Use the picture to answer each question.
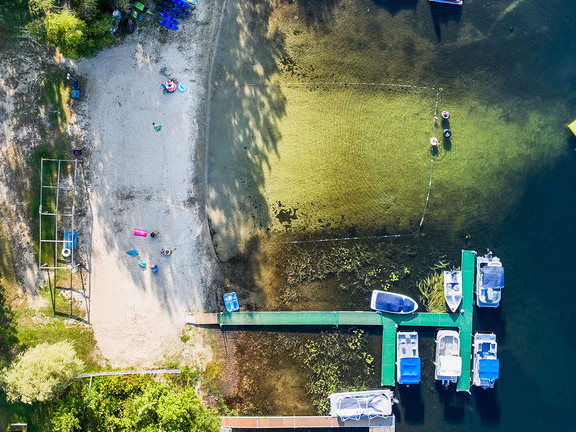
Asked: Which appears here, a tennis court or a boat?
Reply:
boat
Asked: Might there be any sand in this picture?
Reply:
Yes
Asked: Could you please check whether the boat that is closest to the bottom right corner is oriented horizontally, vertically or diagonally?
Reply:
vertically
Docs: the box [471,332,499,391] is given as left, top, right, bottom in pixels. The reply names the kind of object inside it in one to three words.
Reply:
boat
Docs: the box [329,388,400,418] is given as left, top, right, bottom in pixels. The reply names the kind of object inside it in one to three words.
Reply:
boat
